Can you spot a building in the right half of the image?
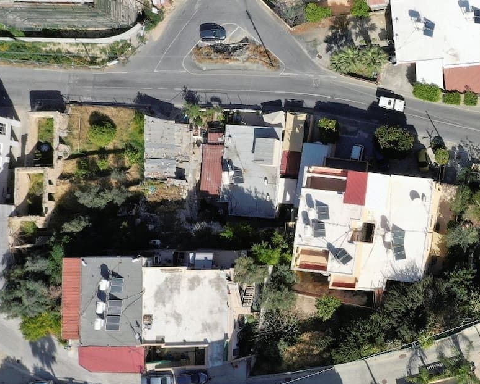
Yes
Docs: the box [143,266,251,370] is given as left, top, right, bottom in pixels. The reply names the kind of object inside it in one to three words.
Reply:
house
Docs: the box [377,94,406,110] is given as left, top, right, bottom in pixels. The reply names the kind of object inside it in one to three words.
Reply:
vehicle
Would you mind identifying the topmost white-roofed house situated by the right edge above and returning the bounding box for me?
[392,0,480,89]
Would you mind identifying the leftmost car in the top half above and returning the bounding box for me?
[199,26,225,41]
